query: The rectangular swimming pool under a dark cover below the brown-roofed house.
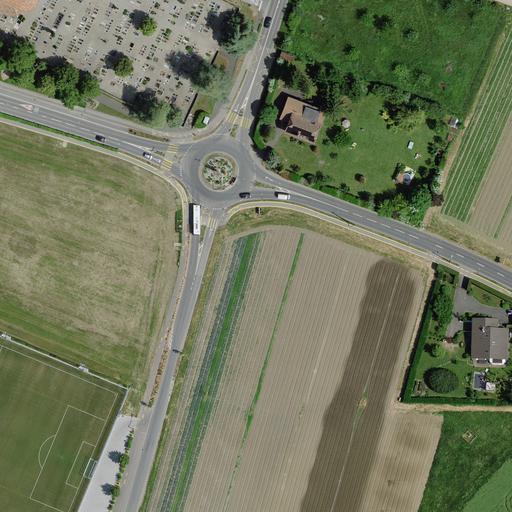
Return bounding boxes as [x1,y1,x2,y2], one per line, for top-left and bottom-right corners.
[473,372,496,394]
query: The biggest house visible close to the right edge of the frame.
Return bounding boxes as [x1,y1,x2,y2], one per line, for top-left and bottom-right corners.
[472,318,511,367]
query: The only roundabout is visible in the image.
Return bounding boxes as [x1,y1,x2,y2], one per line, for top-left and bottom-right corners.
[182,134,256,208]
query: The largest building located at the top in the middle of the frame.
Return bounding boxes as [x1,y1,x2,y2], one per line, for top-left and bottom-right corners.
[280,96,325,144]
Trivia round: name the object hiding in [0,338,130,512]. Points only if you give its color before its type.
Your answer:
green soccer field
